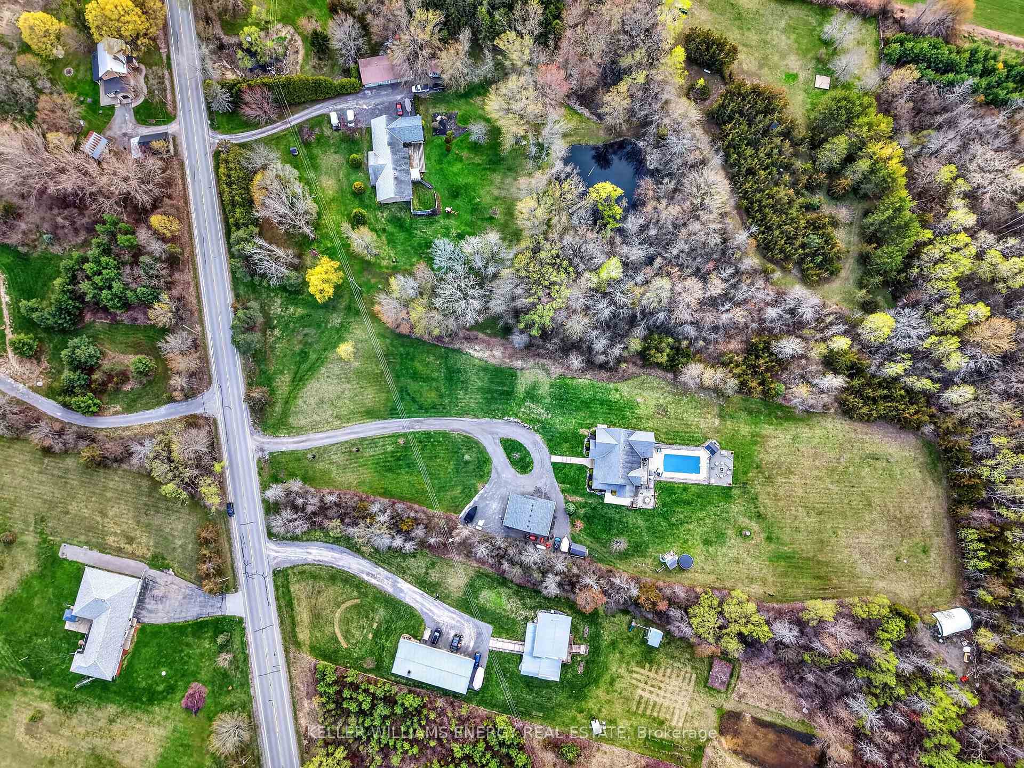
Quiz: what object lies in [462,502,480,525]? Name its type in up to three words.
boat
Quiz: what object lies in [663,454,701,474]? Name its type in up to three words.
swimming pool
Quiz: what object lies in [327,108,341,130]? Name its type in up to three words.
vehicle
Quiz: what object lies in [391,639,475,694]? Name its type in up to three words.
building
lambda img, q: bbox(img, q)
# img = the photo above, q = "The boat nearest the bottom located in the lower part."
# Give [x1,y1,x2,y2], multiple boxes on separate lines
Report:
[474,667,487,694]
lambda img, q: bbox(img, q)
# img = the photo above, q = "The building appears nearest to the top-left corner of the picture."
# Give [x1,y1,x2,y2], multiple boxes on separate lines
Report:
[92,40,137,99]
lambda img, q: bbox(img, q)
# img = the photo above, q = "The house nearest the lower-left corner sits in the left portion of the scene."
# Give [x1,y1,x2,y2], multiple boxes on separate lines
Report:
[70,566,145,681]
